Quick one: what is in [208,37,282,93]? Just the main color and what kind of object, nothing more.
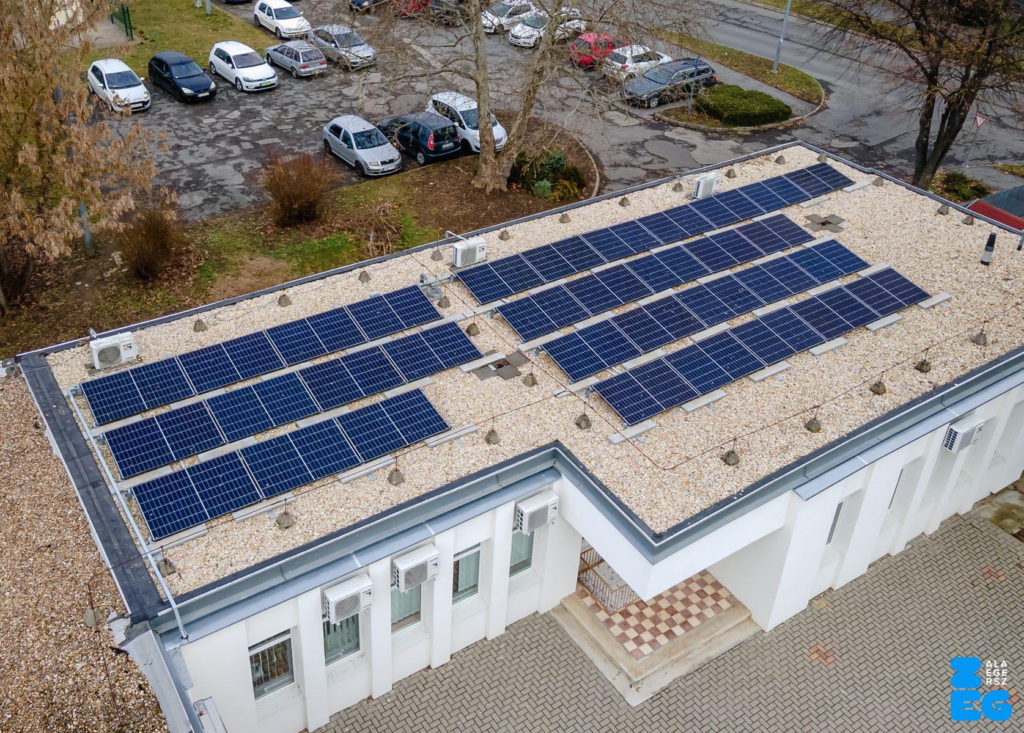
white car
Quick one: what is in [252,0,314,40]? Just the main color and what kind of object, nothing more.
white car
